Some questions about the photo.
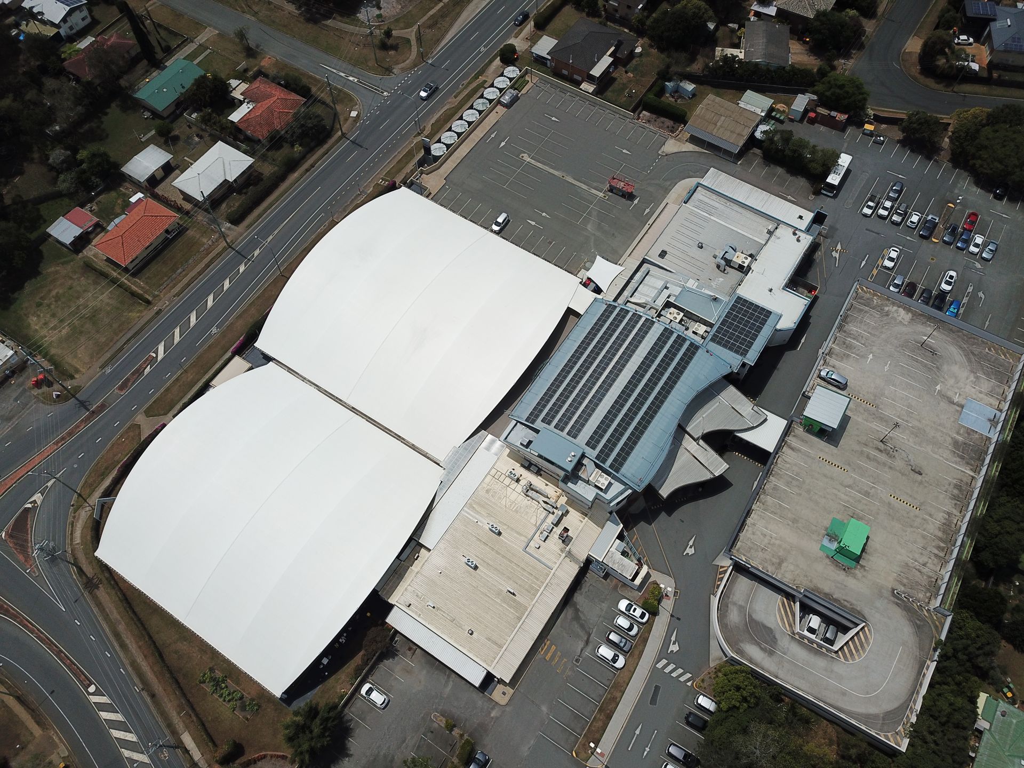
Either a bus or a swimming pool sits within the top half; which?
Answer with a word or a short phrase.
bus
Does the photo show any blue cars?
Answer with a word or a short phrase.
Yes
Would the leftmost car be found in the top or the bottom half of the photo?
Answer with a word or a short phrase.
bottom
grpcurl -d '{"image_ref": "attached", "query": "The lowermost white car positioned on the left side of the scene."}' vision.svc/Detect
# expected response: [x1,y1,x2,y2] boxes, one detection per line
[361,683,390,711]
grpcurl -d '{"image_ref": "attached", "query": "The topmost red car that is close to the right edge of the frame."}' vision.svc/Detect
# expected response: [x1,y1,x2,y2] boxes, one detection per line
[961,211,980,231]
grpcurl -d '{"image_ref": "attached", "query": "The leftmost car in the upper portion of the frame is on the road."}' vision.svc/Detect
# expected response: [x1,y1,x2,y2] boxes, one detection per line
[419,81,437,98]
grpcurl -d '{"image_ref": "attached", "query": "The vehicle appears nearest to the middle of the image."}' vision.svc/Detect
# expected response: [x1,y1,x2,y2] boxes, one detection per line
[490,213,509,234]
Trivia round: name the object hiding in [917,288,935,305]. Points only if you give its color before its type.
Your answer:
black car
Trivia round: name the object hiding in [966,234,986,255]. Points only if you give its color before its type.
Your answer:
white car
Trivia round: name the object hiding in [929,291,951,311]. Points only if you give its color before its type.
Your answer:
black car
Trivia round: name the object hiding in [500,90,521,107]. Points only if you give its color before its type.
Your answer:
gray vehicle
